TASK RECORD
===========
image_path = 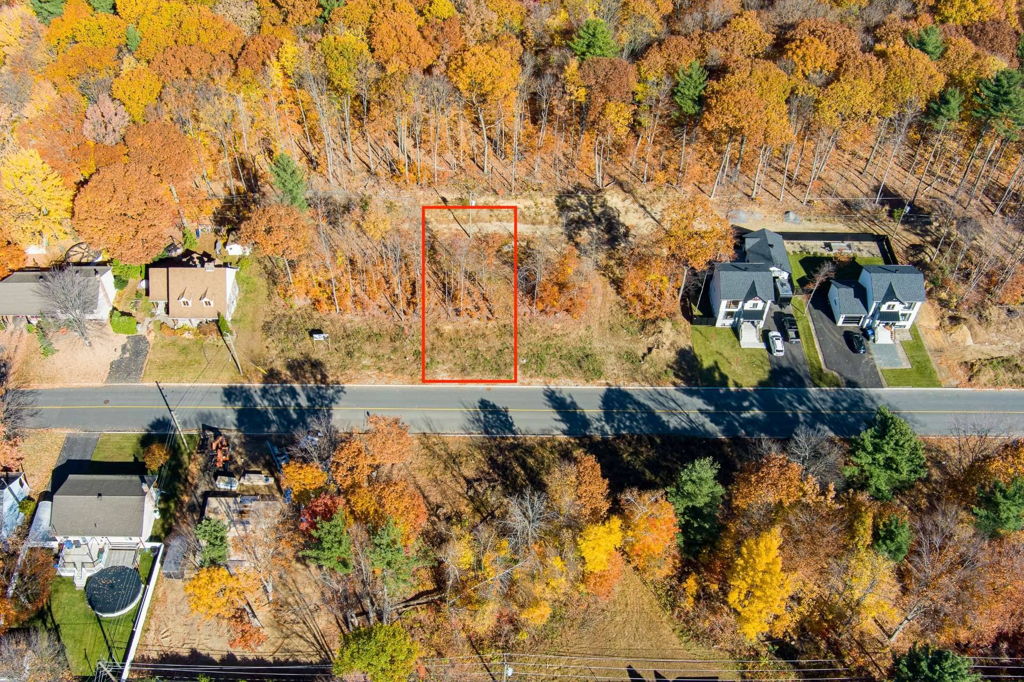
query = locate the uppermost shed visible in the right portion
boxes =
[735,227,792,281]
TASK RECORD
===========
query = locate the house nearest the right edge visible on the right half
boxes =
[825,265,926,350]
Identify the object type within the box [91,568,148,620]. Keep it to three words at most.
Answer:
swimming pool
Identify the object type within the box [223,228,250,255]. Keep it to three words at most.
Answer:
shed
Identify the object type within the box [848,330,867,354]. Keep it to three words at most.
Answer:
car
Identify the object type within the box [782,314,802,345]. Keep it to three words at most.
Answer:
vehicle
